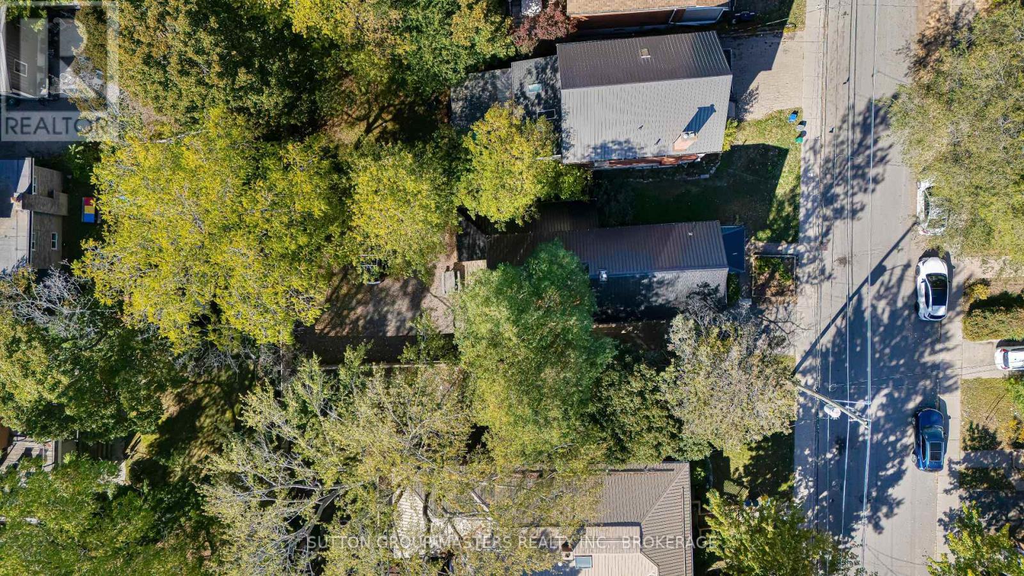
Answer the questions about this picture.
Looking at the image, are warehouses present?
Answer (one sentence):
No, there's no warehouse here.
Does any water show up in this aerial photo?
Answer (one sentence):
No, there is no water in the image.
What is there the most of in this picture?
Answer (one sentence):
For the most part, this view shows trees.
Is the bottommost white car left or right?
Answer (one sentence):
You can find the bottommost white car on the right side of the picture.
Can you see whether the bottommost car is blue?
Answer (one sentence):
Yes, blue is the color of the bottommost car.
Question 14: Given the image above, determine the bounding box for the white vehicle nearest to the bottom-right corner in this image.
[991,344,1024,370]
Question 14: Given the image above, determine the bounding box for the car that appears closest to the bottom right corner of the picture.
[911,406,948,471]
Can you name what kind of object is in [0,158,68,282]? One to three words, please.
house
